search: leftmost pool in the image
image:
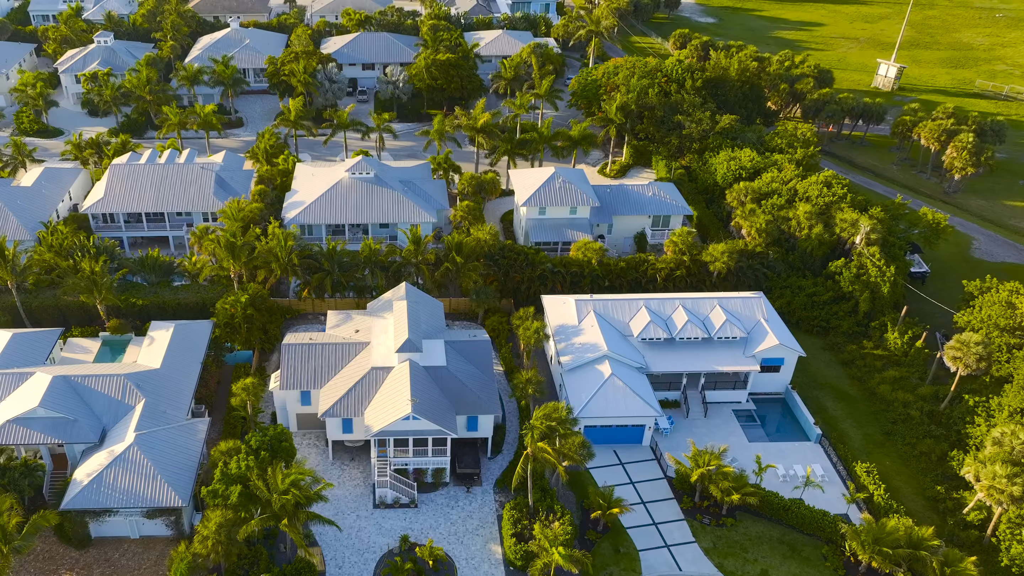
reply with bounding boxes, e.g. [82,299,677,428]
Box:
[93,339,131,364]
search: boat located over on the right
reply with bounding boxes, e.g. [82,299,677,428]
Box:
[893,238,932,282]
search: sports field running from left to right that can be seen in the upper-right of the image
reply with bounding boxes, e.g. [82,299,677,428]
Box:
[618,0,1024,154]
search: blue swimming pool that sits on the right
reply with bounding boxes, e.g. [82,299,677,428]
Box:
[732,383,821,444]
